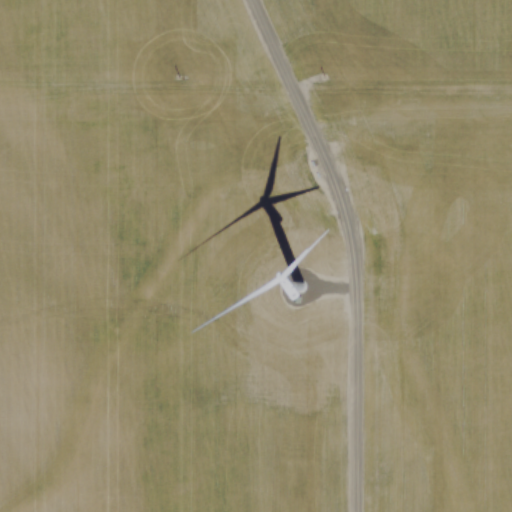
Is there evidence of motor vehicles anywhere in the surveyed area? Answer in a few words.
No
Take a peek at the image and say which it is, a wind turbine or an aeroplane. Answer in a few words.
wind turbine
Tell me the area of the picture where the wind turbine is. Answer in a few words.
center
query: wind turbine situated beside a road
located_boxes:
[194,232,329,332]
